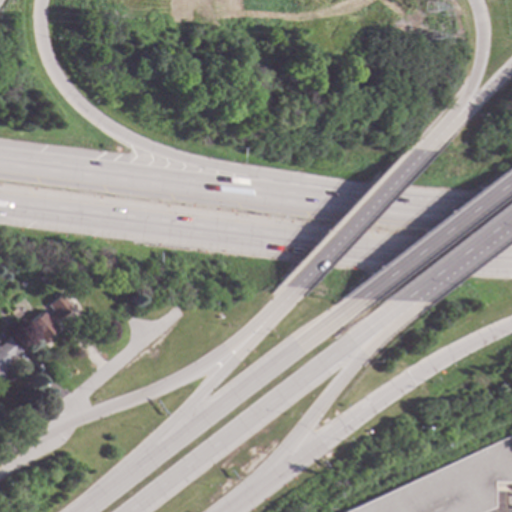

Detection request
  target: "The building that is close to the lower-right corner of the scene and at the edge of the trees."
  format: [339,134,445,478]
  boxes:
[342,434,512,512]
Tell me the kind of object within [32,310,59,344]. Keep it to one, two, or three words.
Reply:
house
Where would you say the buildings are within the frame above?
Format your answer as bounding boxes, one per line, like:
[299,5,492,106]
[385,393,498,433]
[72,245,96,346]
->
[342,434,512,512]
[14,298,32,318]
[0,336,25,368]
[53,289,82,315]
[32,310,59,344]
